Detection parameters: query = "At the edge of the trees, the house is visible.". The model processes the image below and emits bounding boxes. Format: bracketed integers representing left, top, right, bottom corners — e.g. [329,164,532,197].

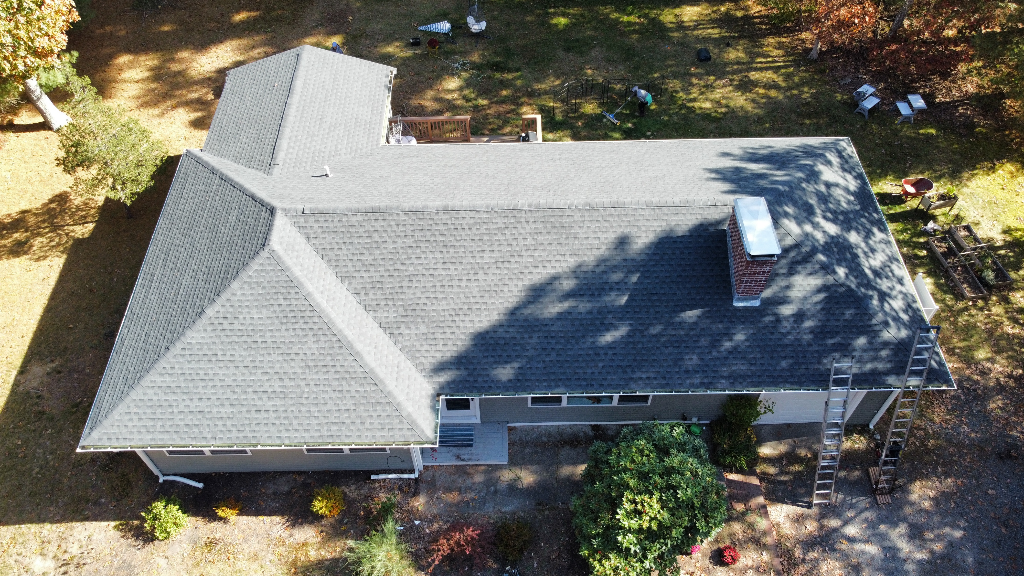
[79,44,953,488]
